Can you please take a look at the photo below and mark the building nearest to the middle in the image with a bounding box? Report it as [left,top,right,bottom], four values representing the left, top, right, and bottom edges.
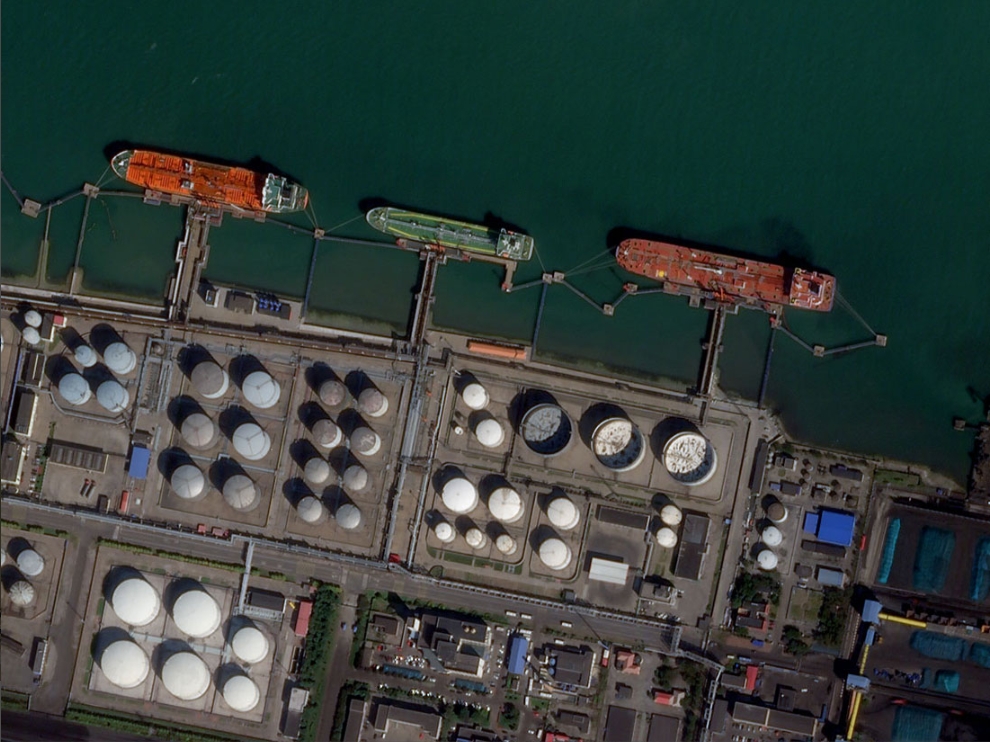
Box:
[470,342,526,359]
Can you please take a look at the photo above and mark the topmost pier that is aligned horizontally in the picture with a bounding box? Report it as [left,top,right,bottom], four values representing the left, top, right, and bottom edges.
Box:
[144,189,265,226]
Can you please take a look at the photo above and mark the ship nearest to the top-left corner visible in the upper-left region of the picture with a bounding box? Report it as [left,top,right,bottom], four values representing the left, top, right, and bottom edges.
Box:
[111,149,309,215]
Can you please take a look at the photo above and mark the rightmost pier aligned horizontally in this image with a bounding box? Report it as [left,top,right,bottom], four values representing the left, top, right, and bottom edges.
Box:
[663,282,782,314]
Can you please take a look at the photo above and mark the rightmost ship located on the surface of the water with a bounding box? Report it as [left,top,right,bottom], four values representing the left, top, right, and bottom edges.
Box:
[615,238,835,313]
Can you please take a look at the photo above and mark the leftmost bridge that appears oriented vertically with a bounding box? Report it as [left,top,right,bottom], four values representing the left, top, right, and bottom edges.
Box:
[164,209,210,319]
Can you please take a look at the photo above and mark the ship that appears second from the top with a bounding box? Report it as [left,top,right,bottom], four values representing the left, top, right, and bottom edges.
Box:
[366,207,535,261]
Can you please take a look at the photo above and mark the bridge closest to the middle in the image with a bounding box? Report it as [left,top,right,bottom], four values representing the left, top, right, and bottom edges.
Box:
[413,253,438,347]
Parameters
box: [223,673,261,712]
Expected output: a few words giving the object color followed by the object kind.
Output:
white storage tank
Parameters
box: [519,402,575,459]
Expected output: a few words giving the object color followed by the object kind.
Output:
gray storage tank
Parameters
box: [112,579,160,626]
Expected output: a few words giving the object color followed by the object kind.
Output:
white storage tank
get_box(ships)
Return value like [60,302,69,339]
[111,149,309,215]
[366,207,535,261]
[615,238,835,313]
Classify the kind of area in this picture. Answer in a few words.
industrial area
